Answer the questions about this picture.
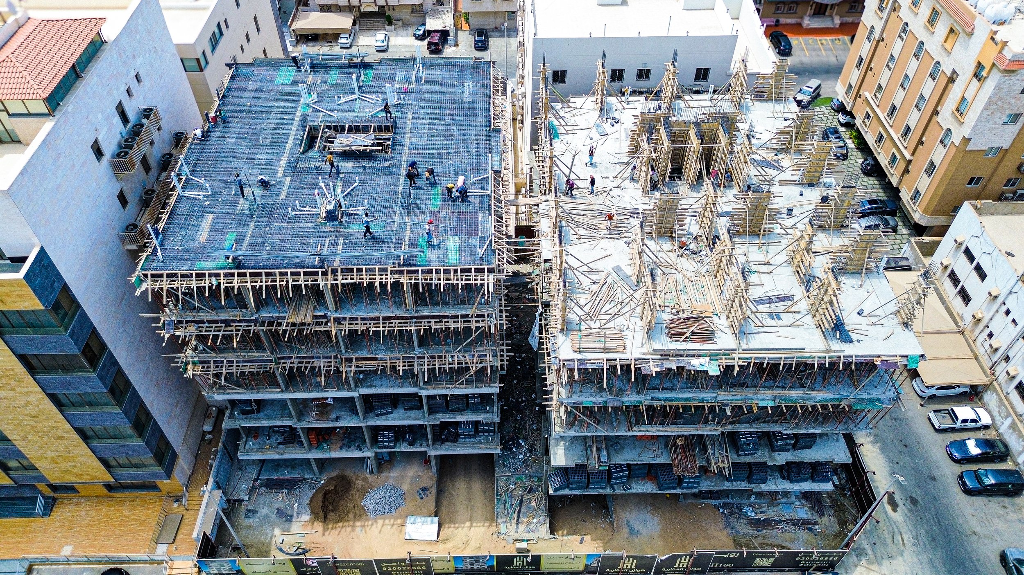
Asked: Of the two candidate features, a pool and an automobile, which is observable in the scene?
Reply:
automobile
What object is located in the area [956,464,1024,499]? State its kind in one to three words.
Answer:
car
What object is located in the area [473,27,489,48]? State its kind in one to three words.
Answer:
car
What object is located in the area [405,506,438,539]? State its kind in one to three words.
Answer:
shed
